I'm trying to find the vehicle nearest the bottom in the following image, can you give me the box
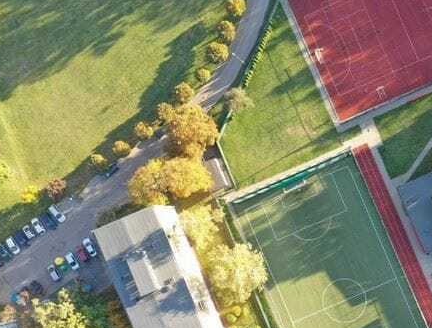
[27,280,44,293]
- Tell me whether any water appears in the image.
No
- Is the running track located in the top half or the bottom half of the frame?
bottom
